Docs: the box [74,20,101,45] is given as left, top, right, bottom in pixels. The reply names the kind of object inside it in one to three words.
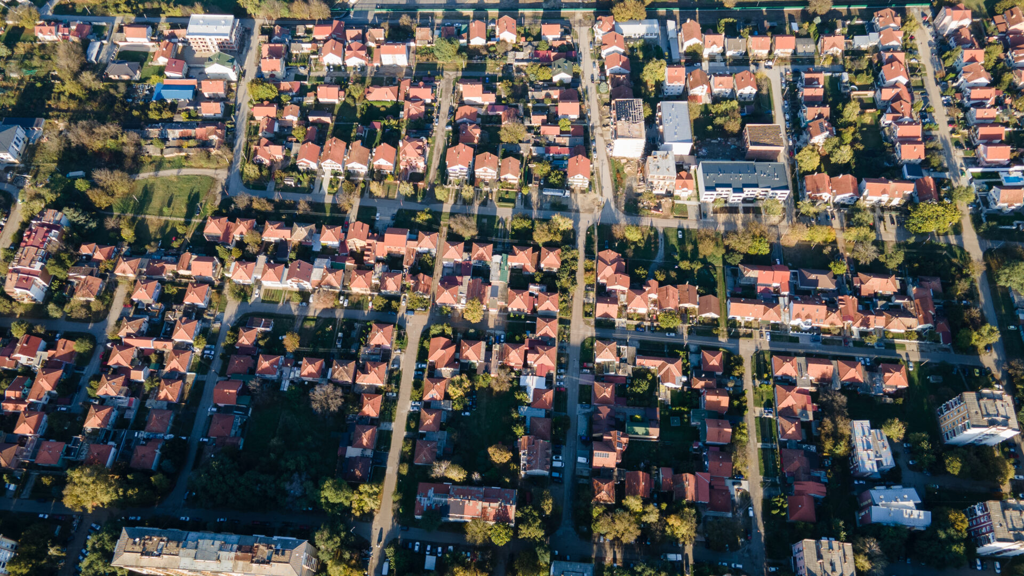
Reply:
house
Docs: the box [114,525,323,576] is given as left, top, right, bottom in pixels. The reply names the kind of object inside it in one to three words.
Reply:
building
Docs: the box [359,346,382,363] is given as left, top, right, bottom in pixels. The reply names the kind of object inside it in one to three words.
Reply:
shed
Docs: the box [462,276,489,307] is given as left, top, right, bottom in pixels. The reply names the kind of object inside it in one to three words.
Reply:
house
